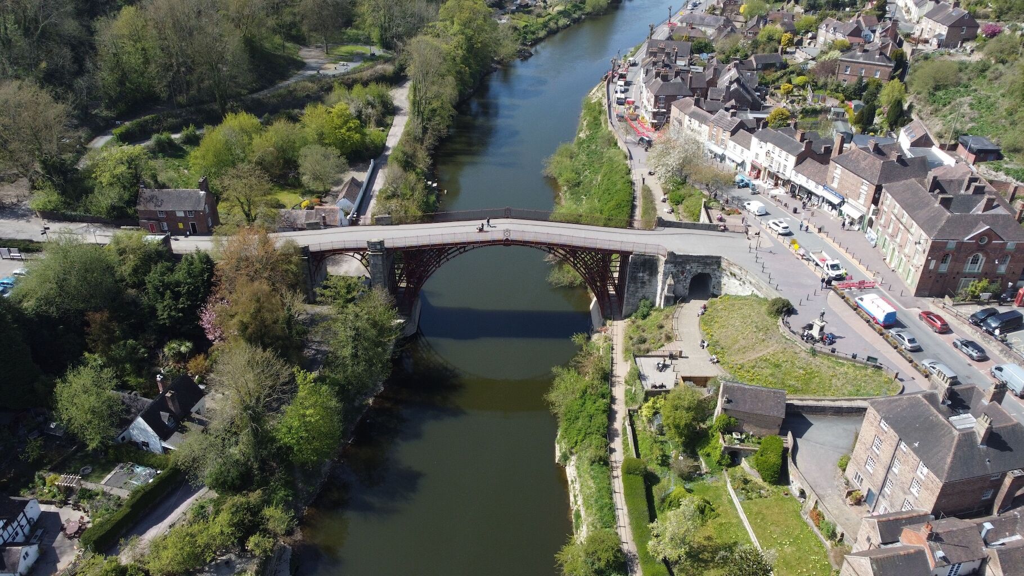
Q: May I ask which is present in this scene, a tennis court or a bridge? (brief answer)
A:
bridge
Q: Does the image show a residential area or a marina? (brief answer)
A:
residential area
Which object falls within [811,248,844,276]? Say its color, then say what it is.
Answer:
white truck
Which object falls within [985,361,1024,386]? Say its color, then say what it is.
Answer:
white vehicle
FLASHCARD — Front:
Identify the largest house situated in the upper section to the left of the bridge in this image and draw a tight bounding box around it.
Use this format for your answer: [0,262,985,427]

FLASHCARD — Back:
[137,177,227,237]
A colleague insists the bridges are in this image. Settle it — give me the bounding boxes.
[296,208,732,337]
